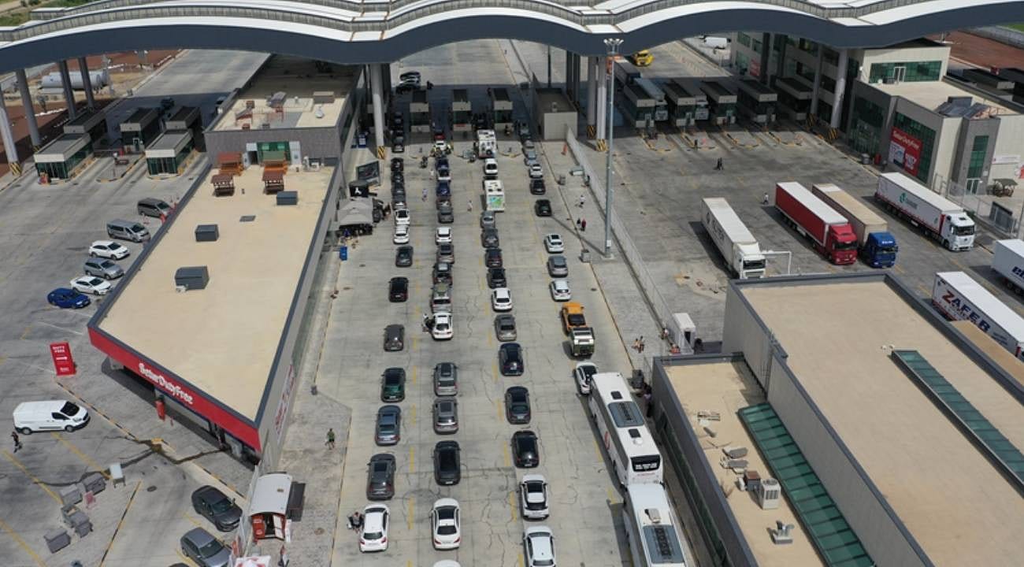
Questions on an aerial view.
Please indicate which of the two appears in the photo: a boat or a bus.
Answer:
bus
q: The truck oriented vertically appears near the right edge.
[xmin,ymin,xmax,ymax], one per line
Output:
[999,241,1024,297]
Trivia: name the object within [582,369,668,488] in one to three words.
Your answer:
bus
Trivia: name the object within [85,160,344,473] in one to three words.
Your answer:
building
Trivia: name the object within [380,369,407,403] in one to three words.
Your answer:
car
